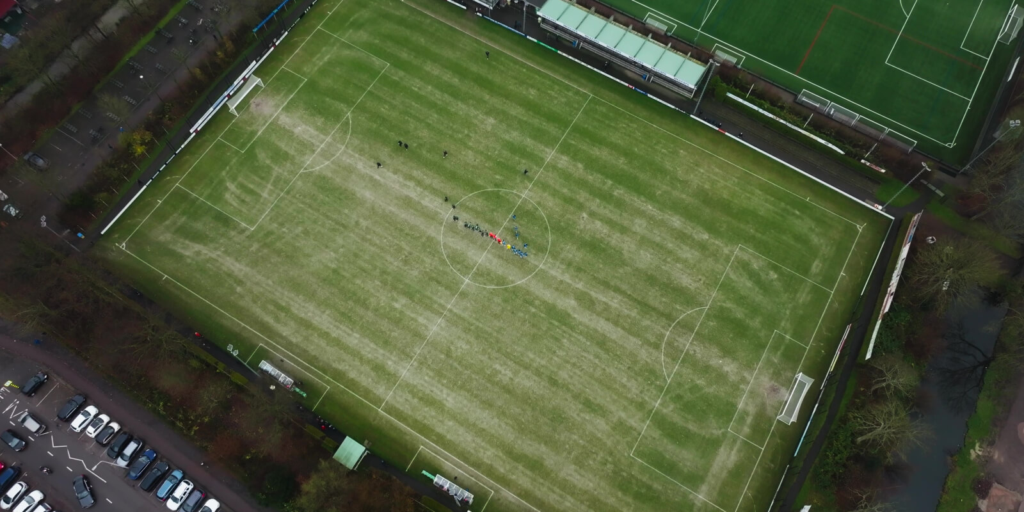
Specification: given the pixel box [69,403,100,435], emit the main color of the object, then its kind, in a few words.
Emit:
white car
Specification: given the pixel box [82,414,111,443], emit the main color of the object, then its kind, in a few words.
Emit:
white car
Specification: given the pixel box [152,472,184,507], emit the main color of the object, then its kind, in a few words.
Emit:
blue car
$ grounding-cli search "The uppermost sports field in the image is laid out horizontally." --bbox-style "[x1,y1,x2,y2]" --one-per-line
[593,0,1024,173]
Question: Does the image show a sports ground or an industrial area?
sports ground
